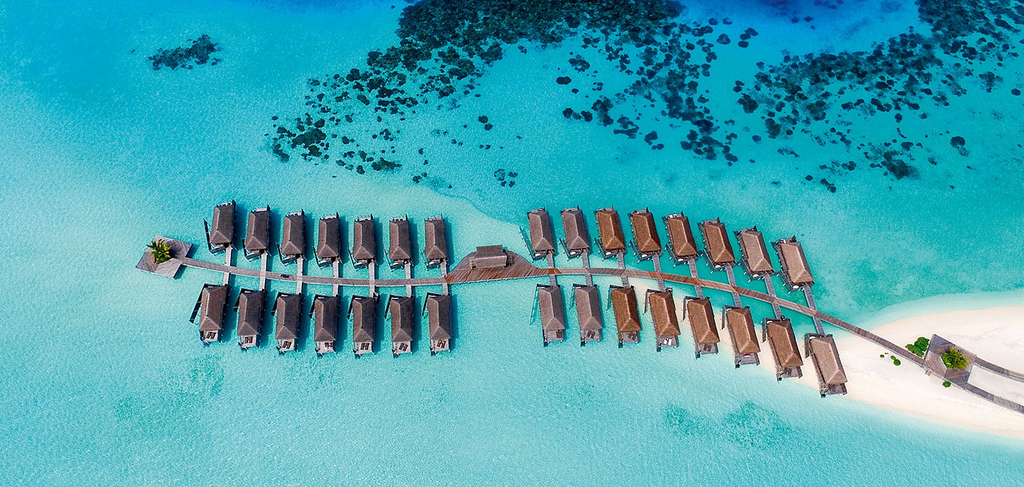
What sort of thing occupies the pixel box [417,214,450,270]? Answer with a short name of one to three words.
house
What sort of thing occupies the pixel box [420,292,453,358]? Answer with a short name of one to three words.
house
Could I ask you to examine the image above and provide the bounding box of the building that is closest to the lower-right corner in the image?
[803,332,848,401]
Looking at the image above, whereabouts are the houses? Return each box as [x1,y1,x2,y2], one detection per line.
[202,199,238,255]
[760,317,804,385]
[345,294,379,361]
[311,212,344,269]
[592,204,628,261]
[382,215,414,271]
[695,216,738,277]
[240,205,273,261]
[661,210,701,269]
[517,205,557,262]
[270,291,305,358]
[417,214,450,270]
[557,204,593,261]
[604,284,641,350]
[685,299,725,365]
[567,283,603,348]
[383,294,416,361]
[346,215,378,272]
[627,207,664,264]
[232,288,268,354]
[420,292,453,358]
[644,291,682,358]
[803,332,848,401]
[189,284,231,350]
[720,304,761,371]
[307,293,342,360]
[531,283,566,348]
[275,209,308,266]
[733,225,776,284]
[771,236,817,296]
